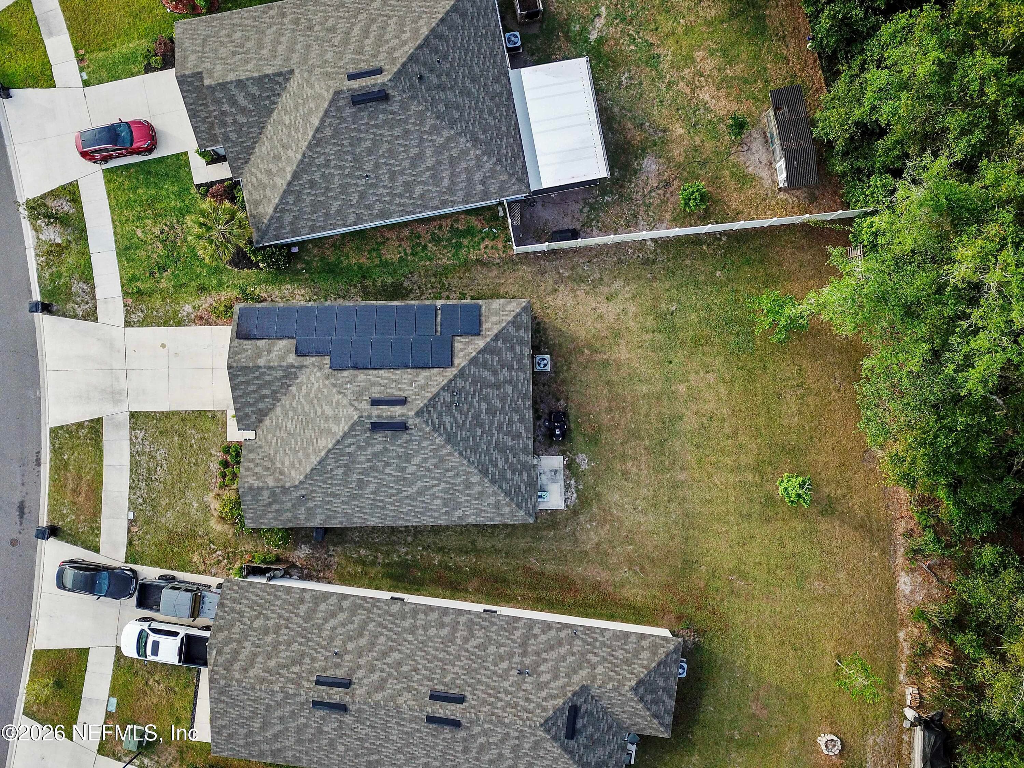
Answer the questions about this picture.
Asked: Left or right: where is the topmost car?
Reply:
left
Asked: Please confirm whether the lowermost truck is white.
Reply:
Yes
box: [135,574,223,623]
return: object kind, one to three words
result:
truck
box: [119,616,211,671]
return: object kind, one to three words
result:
truck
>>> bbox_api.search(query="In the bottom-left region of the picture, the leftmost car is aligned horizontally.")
[53,559,139,605]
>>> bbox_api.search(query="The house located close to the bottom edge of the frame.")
[206,574,683,768]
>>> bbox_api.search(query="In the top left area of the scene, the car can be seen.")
[75,116,157,164]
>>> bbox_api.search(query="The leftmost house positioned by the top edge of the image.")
[174,0,532,249]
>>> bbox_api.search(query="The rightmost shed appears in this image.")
[763,84,820,197]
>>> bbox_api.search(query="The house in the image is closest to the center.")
[226,299,536,528]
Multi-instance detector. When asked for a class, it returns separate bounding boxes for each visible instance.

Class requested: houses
[226,299,536,528]
[174,0,532,249]
[206,574,683,768]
